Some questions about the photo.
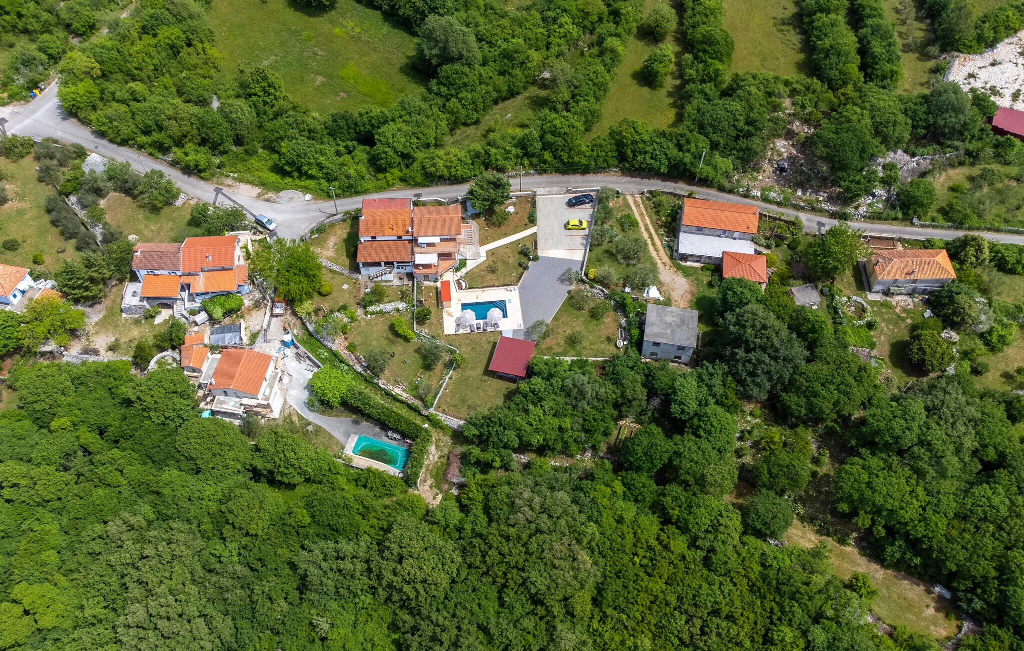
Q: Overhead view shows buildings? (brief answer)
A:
Yes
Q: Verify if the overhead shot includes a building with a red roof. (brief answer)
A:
Yes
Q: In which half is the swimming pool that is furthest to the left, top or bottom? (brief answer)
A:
bottom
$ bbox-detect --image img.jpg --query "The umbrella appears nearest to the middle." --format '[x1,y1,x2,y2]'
[487,309,503,331]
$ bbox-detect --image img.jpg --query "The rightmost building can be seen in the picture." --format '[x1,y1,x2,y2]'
[988,107,1024,147]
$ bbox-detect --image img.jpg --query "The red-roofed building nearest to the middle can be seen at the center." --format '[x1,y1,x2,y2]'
[489,336,536,382]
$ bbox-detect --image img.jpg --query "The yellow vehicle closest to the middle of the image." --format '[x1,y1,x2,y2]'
[565,218,588,231]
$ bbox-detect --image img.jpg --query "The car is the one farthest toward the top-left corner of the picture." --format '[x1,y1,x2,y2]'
[251,212,277,233]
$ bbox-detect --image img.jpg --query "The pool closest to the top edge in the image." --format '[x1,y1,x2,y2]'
[441,270,523,335]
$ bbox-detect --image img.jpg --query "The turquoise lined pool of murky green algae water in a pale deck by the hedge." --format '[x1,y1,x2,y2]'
[343,433,414,479]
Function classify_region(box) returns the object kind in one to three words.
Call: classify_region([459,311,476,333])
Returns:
umbrella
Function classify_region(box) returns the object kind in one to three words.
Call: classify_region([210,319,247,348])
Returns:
shed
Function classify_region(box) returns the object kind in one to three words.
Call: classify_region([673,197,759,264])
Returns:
house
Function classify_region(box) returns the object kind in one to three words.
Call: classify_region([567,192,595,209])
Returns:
car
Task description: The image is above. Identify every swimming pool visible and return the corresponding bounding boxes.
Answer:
[441,270,523,335]
[343,433,414,479]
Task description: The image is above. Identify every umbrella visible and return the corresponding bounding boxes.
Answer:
[459,311,476,333]
[487,309,503,331]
